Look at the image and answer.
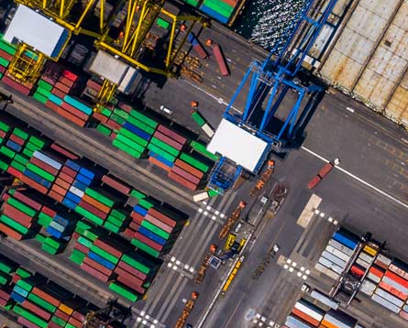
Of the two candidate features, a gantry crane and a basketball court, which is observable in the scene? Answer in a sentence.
It is a gantry crane that can be seen here.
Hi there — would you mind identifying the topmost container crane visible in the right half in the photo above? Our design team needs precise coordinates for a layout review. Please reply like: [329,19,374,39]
[202,0,341,201]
